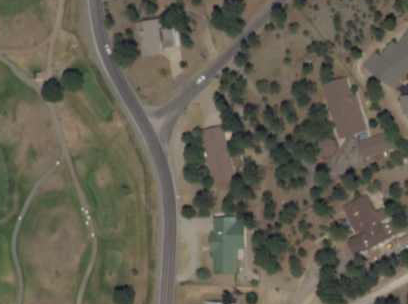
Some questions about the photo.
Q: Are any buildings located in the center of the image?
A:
Yes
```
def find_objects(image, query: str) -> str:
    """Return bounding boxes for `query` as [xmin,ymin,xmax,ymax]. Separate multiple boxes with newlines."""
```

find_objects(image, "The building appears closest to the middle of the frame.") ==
[202,126,234,189]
